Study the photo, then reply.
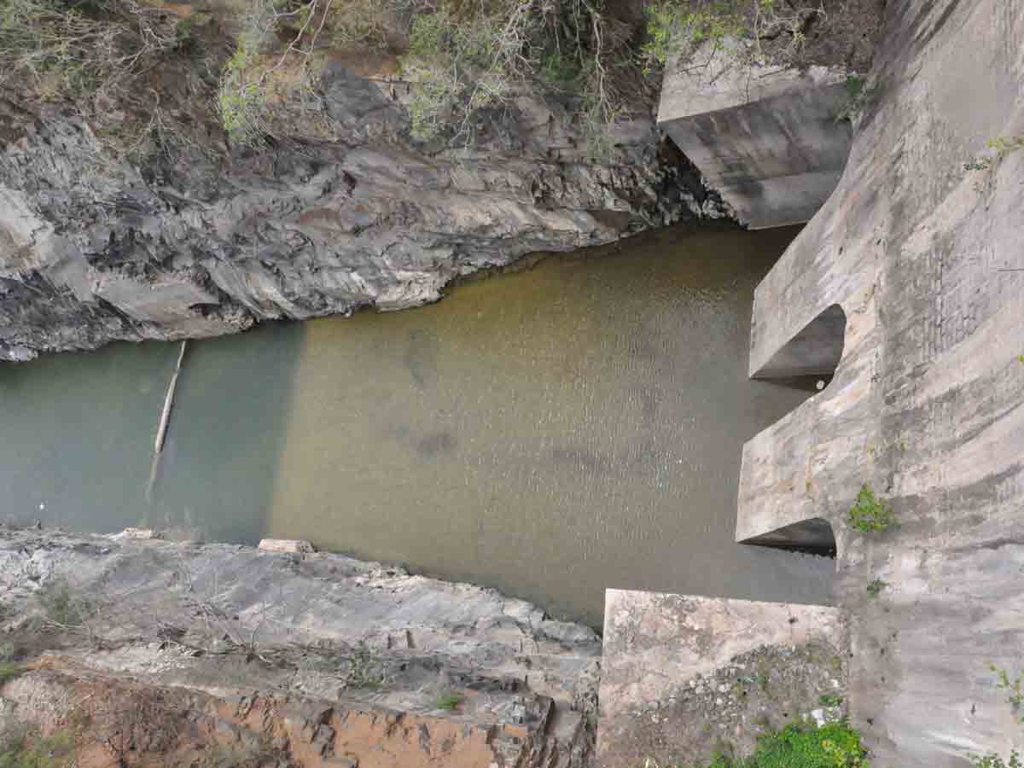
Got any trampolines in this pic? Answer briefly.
No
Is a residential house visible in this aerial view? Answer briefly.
No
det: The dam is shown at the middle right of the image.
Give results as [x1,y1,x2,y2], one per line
[737,0,1024,768]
